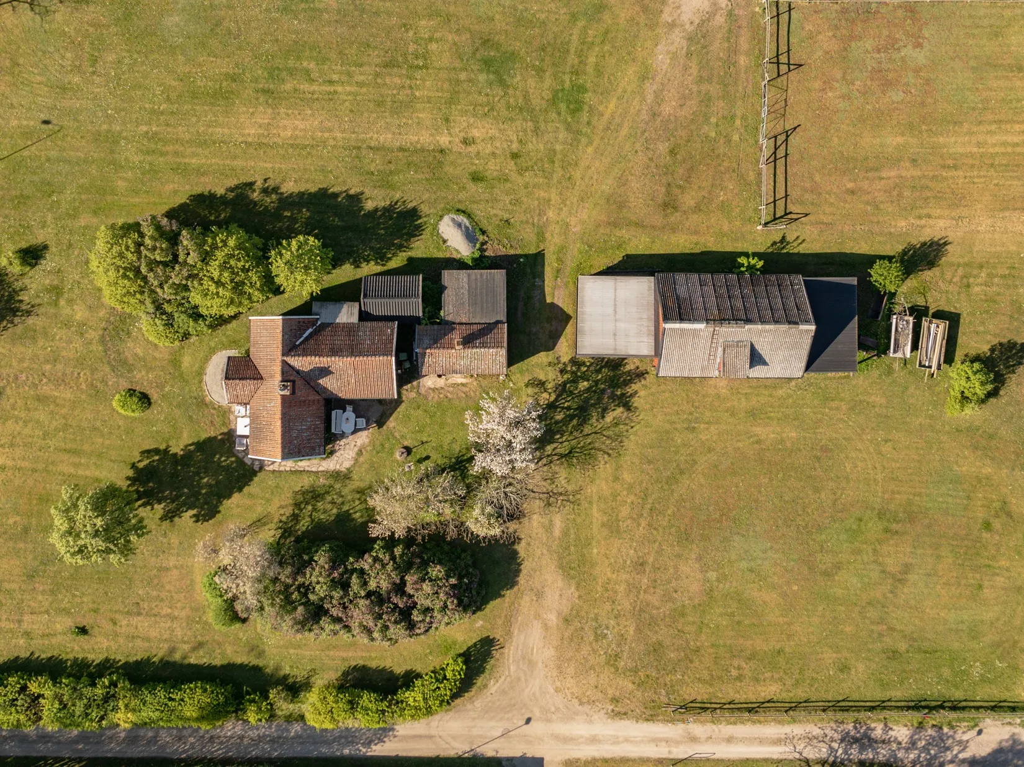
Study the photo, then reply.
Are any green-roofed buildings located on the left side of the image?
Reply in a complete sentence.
No, on the left side of the image there is no green-roofed building.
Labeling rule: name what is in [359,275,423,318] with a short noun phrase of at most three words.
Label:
shed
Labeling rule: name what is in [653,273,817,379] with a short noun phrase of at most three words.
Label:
barn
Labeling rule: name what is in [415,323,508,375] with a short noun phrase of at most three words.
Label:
shed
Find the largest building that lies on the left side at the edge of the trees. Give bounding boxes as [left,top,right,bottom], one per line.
[222,302,397,461]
